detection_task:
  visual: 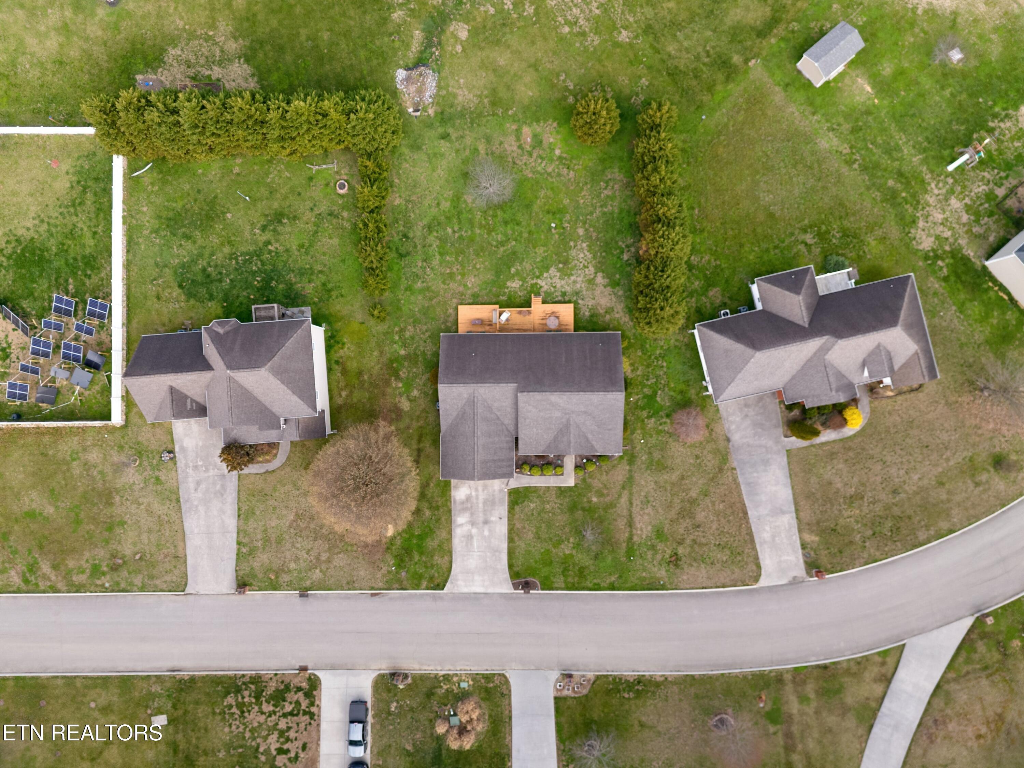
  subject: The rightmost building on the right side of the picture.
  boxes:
[979,230,1024,308]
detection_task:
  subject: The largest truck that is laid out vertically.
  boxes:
[343,699,369,760]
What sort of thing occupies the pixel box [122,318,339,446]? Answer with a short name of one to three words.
house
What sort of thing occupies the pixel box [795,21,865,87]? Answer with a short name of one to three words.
shed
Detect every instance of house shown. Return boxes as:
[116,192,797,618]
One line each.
[686,265,940,408]
[438,331,625,481]
[979,230,1024,308]
[122,318,339,446]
